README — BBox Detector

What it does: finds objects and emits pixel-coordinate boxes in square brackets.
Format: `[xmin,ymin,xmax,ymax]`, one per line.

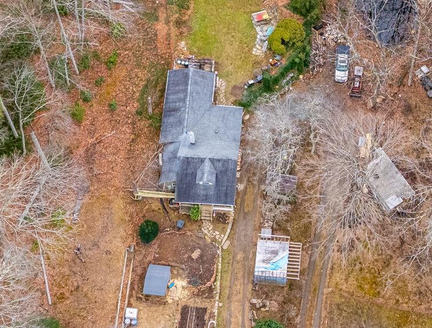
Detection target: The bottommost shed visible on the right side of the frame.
[254,233,302,288]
